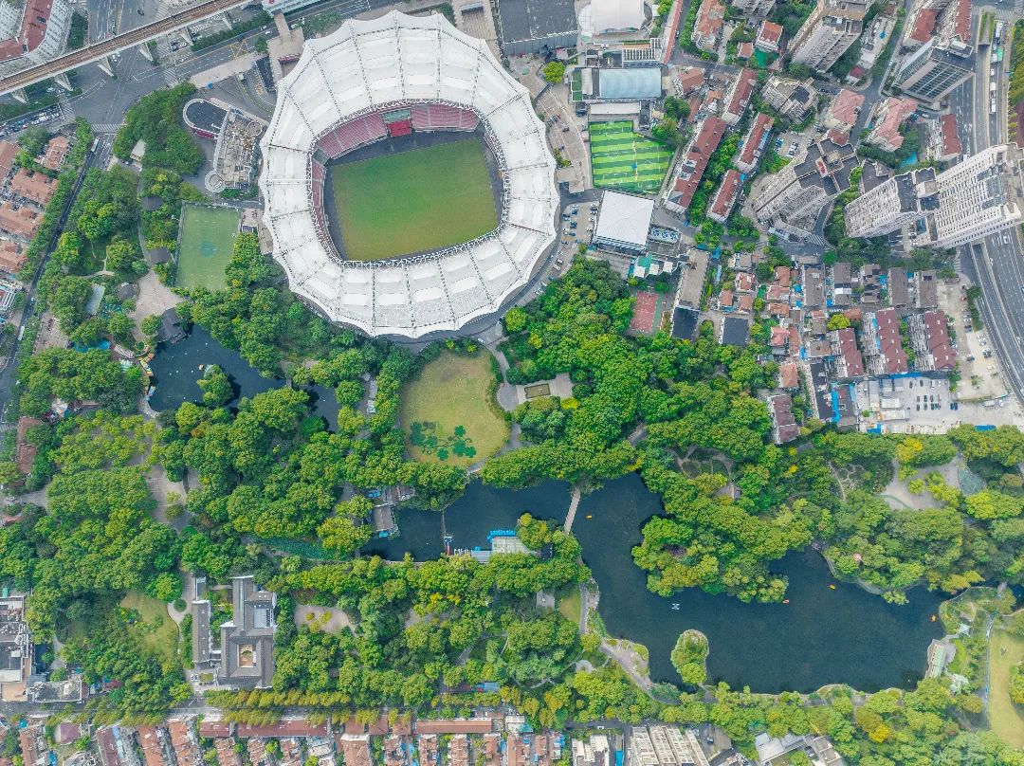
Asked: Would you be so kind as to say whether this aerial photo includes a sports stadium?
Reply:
Yes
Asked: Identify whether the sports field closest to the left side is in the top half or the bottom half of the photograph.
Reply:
top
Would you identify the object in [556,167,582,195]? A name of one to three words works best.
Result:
shed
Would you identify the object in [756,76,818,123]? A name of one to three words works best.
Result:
building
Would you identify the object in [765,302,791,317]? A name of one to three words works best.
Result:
house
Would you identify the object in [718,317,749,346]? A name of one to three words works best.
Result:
house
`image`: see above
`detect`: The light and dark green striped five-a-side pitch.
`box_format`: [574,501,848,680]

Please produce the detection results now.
[589,118,678,194]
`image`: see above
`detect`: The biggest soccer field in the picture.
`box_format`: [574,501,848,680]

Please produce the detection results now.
[331,137,497,260]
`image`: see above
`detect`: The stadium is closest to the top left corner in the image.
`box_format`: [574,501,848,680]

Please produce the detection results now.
[258,10,559,338]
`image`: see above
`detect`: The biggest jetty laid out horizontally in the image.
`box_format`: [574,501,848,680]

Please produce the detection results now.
[493,537,536,554]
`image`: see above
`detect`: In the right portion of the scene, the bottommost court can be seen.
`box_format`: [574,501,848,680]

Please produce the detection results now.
[630,291,663,334]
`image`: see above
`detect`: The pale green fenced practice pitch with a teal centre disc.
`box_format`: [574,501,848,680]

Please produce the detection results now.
[174,203,240,291]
